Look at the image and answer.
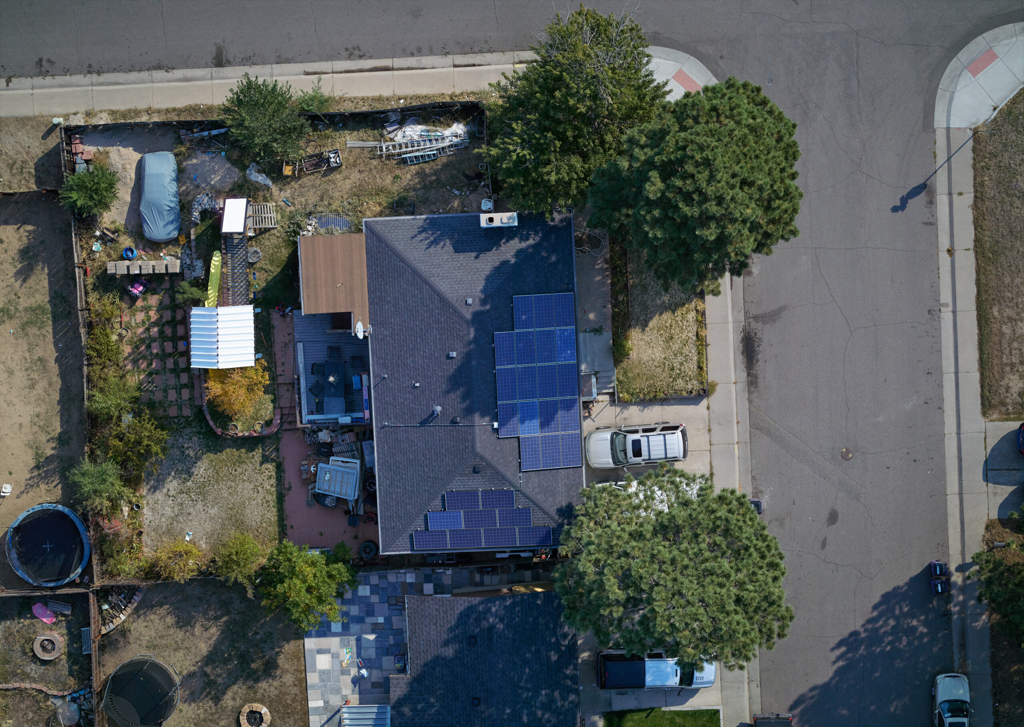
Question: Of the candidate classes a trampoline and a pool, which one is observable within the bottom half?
trampoline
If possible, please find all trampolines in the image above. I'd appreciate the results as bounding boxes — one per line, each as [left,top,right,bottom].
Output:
[6,503,90,587]
[100,650,186,727]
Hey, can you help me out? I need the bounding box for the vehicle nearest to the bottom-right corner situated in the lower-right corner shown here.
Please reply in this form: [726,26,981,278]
[930,671,976,727]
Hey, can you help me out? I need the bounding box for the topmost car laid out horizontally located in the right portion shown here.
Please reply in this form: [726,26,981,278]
[586,422,689,470]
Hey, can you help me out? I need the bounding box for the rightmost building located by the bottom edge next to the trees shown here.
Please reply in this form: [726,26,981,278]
[388,581,581,727]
